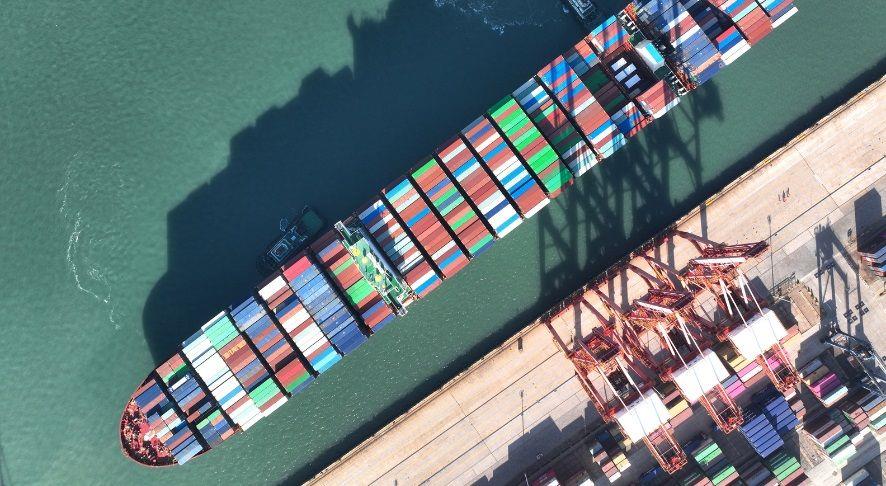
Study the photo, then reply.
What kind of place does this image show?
port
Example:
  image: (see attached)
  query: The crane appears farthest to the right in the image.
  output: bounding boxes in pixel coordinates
[820,328,886,401]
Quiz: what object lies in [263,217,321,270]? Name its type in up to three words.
boat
